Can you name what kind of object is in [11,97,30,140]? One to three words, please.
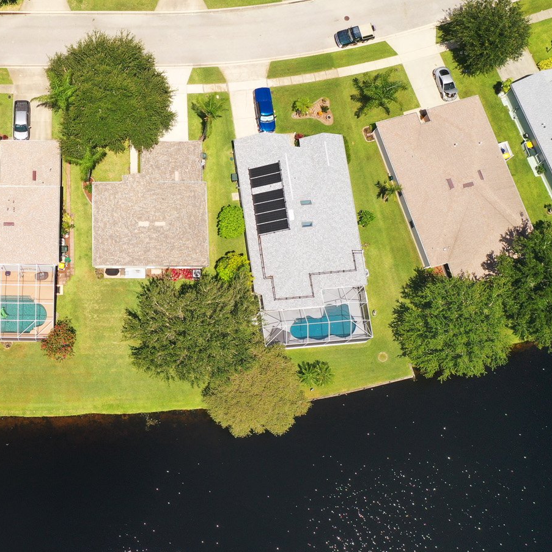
vehicle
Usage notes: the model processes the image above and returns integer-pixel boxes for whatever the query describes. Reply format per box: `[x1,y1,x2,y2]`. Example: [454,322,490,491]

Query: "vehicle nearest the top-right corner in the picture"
[436,62,461,99]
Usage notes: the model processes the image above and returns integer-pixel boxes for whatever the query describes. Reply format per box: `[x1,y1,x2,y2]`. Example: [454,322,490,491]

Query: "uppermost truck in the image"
[335,18,379,44]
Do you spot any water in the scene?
Yes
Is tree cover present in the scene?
Yes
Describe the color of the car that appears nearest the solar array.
blue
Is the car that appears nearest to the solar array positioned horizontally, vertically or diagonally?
vertically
